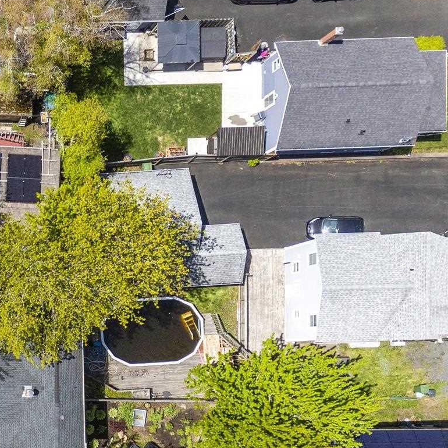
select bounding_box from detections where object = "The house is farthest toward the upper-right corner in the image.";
[258,22,448,157]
